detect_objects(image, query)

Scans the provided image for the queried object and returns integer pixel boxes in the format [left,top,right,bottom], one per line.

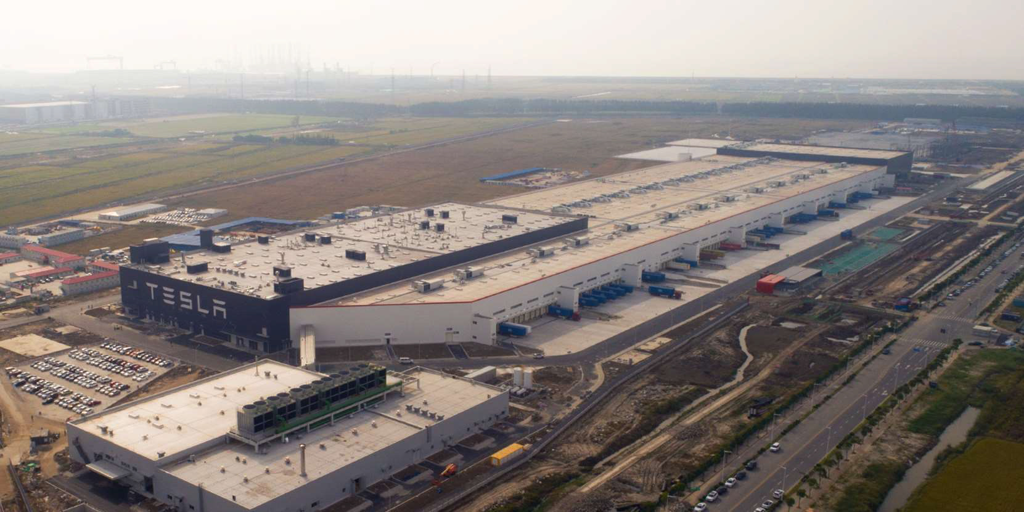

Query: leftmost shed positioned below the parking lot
[27,424,54,442]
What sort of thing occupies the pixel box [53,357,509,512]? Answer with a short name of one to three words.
building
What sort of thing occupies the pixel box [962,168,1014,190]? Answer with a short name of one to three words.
building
